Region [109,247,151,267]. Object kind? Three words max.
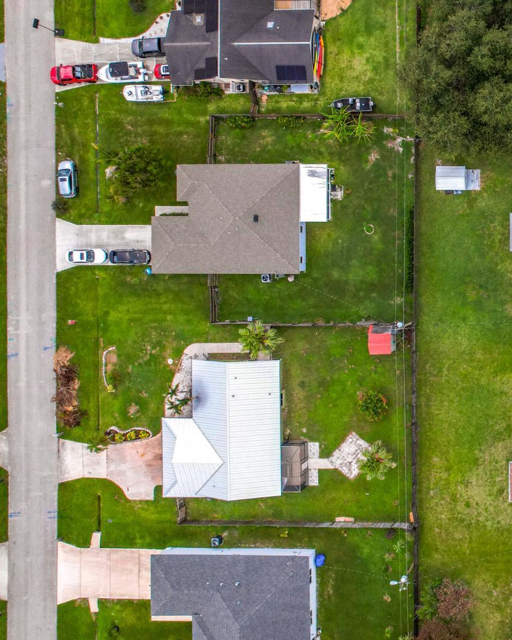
car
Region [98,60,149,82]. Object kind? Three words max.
boat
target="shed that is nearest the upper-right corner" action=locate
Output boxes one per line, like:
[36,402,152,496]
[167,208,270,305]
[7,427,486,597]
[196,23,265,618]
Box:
[436,166,481,191]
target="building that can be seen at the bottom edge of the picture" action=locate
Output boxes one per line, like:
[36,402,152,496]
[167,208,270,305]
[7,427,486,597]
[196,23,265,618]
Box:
[151,546,320,640]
